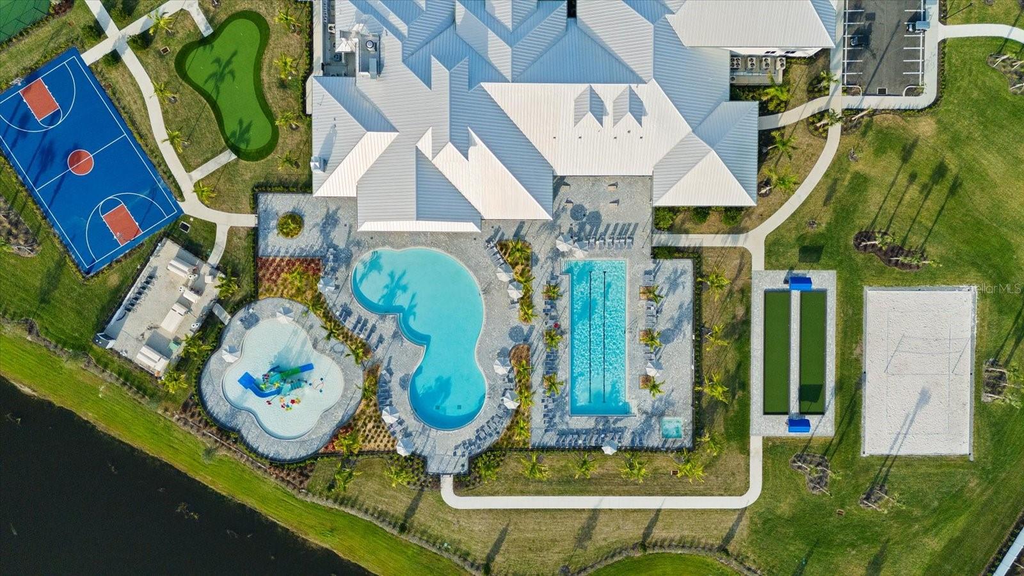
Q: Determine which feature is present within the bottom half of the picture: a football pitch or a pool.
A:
pool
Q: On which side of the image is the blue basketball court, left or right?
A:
left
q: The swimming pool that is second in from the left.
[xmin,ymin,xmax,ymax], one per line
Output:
[349,245,488,432]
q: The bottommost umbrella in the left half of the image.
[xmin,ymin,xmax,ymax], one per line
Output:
[396,437,413,455]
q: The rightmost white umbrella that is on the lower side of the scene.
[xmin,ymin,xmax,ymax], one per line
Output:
[645,359,662,376]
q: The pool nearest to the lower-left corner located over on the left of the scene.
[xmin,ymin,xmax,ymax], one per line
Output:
[221,317,345,441]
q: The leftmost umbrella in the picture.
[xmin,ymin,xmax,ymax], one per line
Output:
[222,344,241,362]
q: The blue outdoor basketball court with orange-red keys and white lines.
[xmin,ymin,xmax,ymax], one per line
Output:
[0,49,183,276]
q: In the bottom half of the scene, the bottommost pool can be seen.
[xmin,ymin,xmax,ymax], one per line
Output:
[661,418,684,444]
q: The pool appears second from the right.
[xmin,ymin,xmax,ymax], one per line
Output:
[560,257,633,417]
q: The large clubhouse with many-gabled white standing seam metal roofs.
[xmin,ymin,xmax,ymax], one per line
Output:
[312,0,836,233]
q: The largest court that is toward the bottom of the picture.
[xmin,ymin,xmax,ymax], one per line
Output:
[861,286,978,461]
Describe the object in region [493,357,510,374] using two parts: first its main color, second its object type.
white umbrella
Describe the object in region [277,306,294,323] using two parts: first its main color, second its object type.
white umbrella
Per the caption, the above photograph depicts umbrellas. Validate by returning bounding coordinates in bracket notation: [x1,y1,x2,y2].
[381,406,399,423]
[600,439,618,457]
[277,306,294,323]
[222,344,241,362]
[573,240,591,258]
[493,357,510,374]
[507,282,524,299]
[645,359,662,376]
[319,275,337,293]
[555,234,573,251]
[396,437,413,455]
[496,265,513,282]
[501,391,519,409]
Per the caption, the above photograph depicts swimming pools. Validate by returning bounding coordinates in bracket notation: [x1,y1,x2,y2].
[560,257,633,417]
[661,418,684,444]
[221,317,345,441]
[349,245,488,432]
